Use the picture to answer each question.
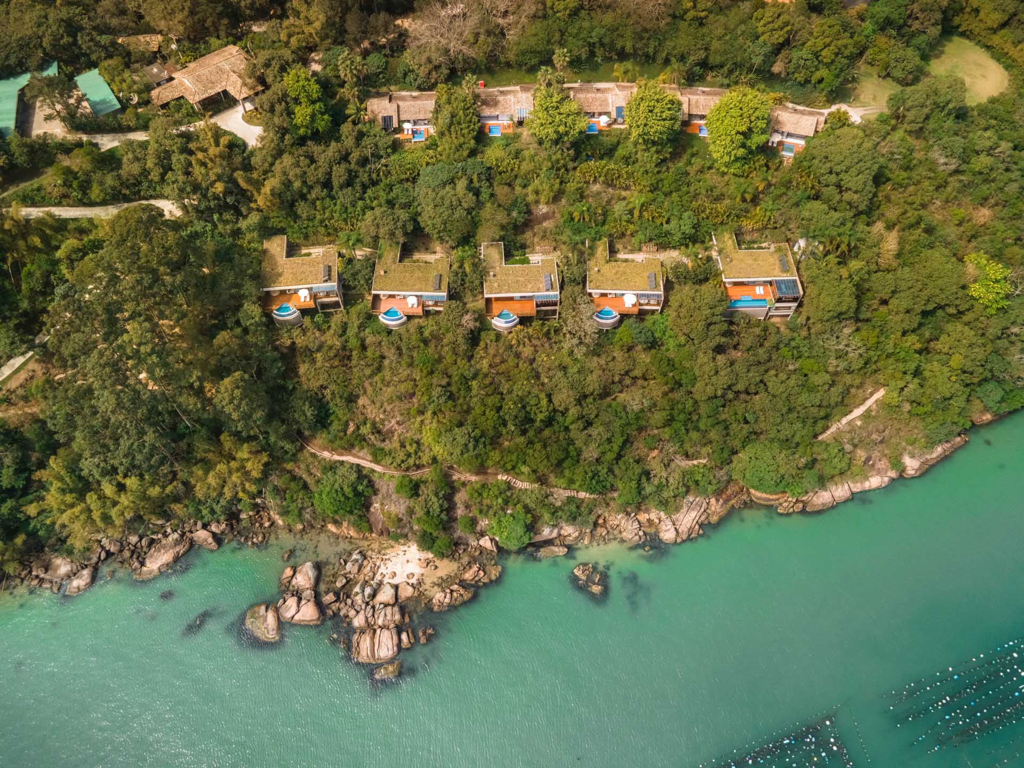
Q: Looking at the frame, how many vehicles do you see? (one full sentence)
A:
The count of vehicles is 0.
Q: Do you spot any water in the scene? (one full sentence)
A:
Yes, water can be seen from above here.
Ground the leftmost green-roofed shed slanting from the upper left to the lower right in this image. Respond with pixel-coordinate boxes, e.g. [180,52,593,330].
[74,69,129,139]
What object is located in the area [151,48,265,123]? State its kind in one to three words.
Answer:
building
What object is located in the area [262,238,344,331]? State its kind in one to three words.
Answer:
house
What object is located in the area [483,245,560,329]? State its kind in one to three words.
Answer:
house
